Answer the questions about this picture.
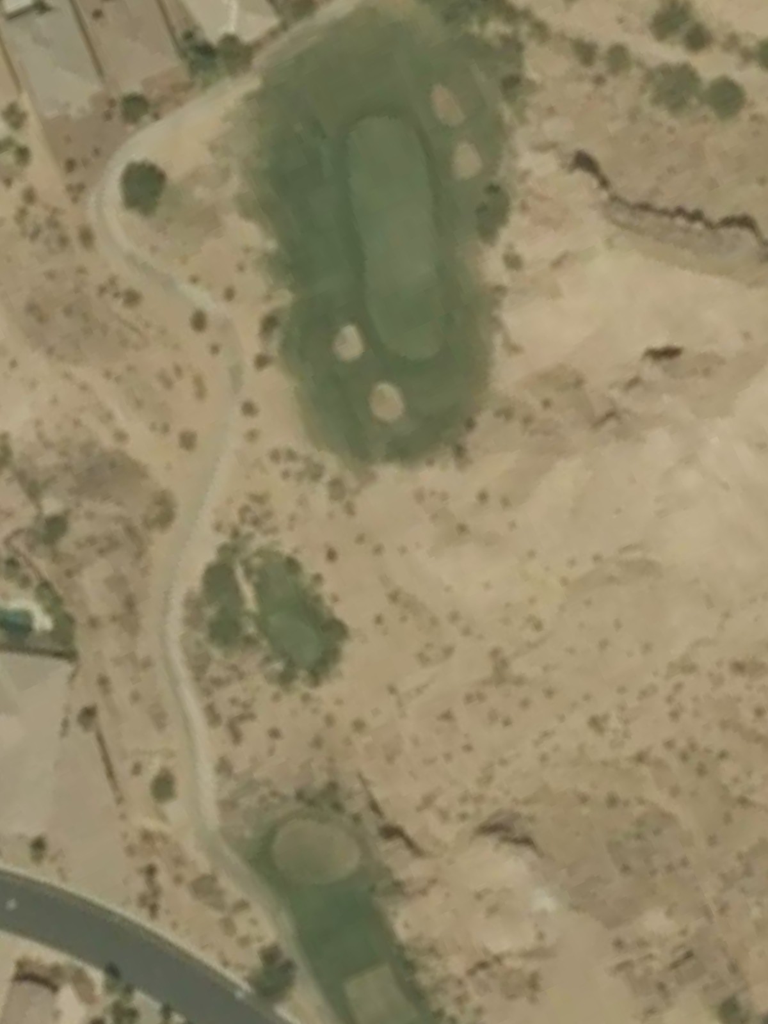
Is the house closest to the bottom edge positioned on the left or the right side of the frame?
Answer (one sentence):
The house closest to the bottom edge appears in the left half of the scene.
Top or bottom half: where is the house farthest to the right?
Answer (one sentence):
It is in the top half that the house farthest to the right appears.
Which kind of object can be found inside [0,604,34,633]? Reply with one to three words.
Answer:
swimming pool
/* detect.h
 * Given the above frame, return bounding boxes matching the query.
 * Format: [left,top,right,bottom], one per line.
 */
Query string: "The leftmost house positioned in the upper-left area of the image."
[6,0,102,108]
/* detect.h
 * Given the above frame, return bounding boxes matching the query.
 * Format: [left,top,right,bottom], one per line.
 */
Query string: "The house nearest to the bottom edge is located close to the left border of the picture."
[3,982,56,1024]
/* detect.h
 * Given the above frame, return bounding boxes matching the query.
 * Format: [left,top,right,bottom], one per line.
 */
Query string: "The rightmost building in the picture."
[185,0,264,40]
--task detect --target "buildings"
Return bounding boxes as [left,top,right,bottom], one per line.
[0,653,71,835]
[185,0,264,40]
[3,982,56,1024]
[6,0,102,108]
[80,0,178,88]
